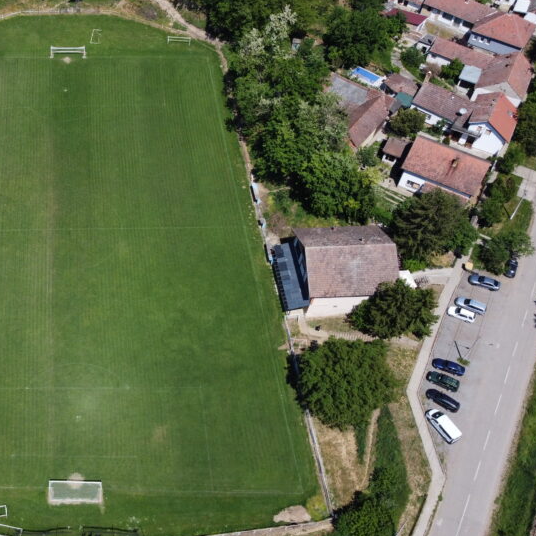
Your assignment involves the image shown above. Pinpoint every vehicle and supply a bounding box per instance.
[432,356,469,377]
[469,271,503,291]
[455,295,490,315]
[425,369,464,393]
[447,304,479,324]
[424,407,468,444]
[508,255,523,280]
[425,387,465,414]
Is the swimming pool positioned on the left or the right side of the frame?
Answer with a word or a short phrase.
right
